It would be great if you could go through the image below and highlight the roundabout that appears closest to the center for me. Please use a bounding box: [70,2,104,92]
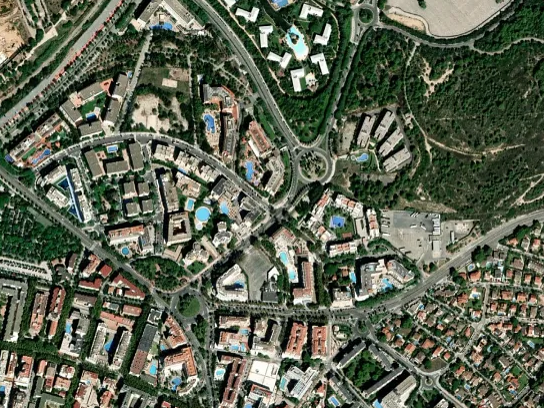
[293,145,336,187]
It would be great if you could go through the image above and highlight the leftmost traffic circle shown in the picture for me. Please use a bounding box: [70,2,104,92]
[171,285,208,321]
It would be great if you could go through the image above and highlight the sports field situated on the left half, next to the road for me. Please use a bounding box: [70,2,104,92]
[141,69,189,86]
